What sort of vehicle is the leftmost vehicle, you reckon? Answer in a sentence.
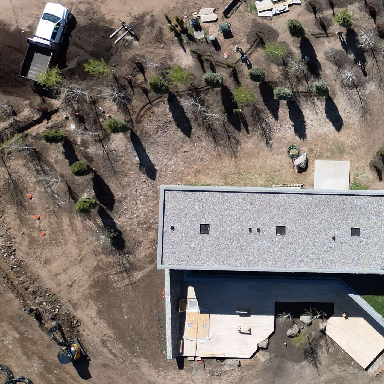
The leftmost vehicle can be classified as a truck.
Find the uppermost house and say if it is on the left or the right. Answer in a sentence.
The uppermost house is on the right side of the image.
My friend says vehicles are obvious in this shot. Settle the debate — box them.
[17,2,73,83]
[53,326,96,374]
